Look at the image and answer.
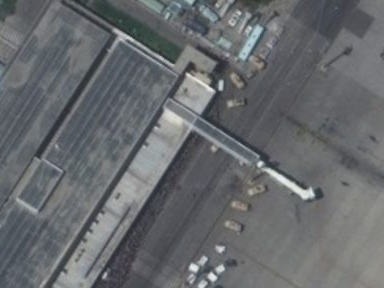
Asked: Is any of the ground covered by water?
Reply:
No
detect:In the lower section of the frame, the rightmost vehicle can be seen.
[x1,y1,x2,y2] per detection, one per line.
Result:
[248,184,268,196]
